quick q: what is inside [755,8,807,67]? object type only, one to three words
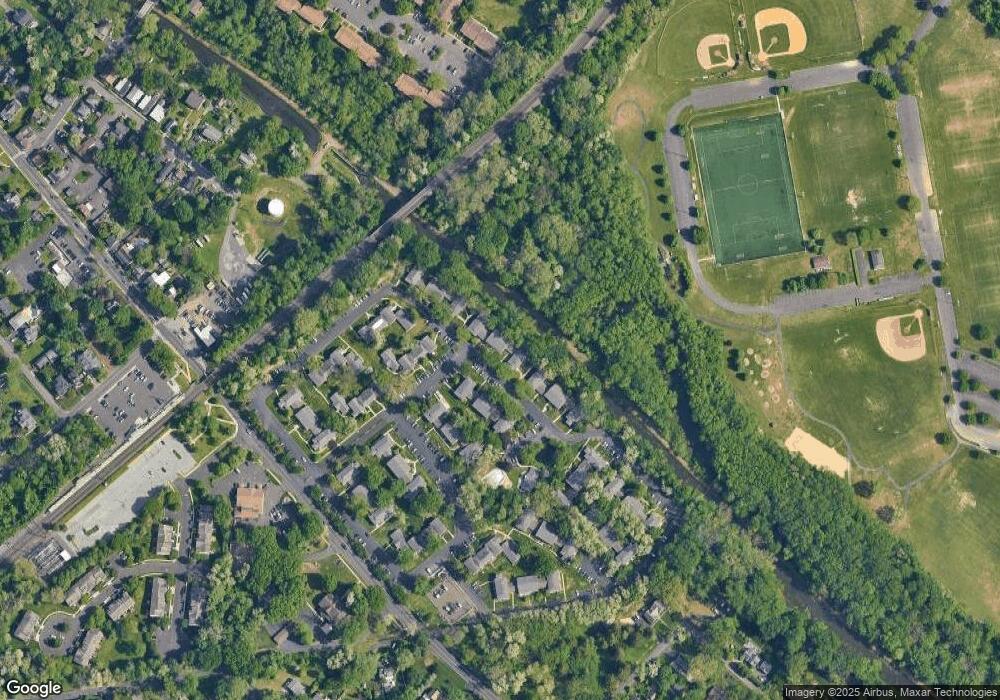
baseball field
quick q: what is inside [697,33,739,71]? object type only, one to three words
baseball field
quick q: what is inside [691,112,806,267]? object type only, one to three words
soccer field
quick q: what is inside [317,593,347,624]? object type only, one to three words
house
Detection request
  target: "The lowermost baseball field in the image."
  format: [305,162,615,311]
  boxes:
[876,305,930,361]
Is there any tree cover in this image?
Yes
